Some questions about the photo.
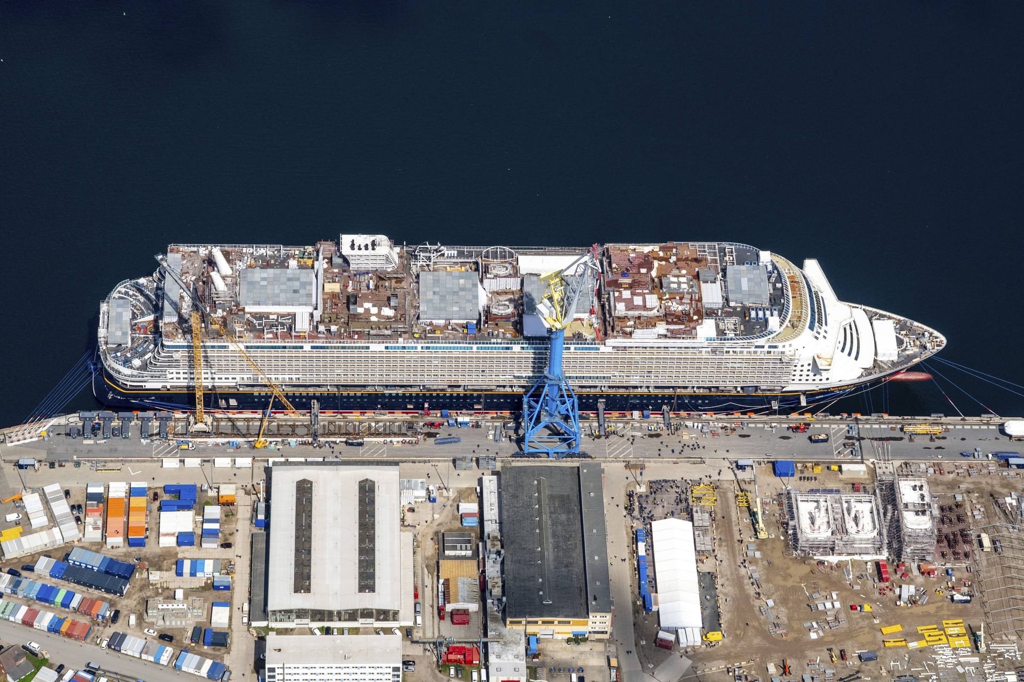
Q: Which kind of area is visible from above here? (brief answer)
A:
port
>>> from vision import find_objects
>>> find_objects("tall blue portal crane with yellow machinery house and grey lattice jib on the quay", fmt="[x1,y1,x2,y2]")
[508,243,602,462]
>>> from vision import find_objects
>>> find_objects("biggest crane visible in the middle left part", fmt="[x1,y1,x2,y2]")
[157,256,300,436]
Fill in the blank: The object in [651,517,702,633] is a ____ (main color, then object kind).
white tent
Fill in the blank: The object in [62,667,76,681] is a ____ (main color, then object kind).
white vehicle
